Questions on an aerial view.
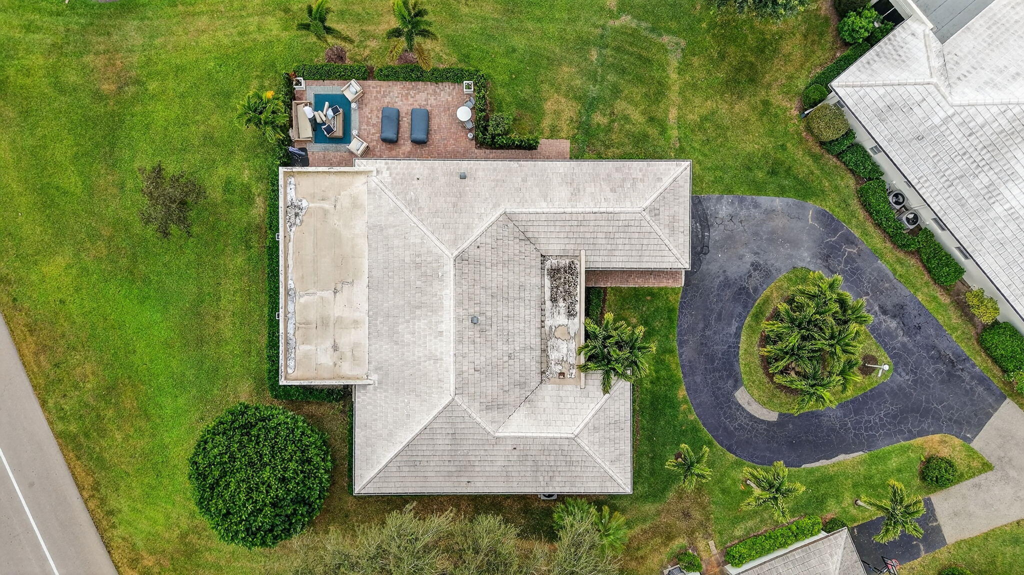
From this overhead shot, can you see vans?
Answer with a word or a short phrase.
No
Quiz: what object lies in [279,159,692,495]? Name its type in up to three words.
house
